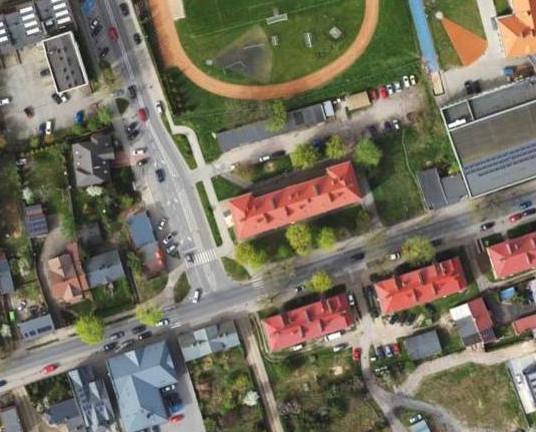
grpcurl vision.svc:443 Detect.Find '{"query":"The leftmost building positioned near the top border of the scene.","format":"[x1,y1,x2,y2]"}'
[0,2,47,56]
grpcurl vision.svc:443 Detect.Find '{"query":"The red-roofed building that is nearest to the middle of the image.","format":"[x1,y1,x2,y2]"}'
[229,161,361,240]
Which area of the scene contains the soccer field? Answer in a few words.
top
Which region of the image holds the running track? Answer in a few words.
top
